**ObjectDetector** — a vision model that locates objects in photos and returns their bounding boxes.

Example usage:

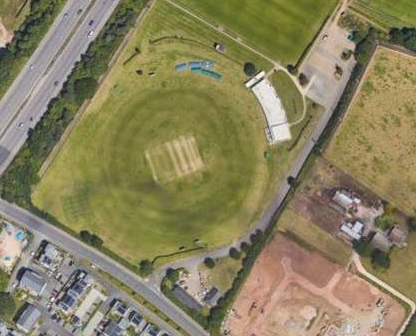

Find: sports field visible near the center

[34,0,311,276]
